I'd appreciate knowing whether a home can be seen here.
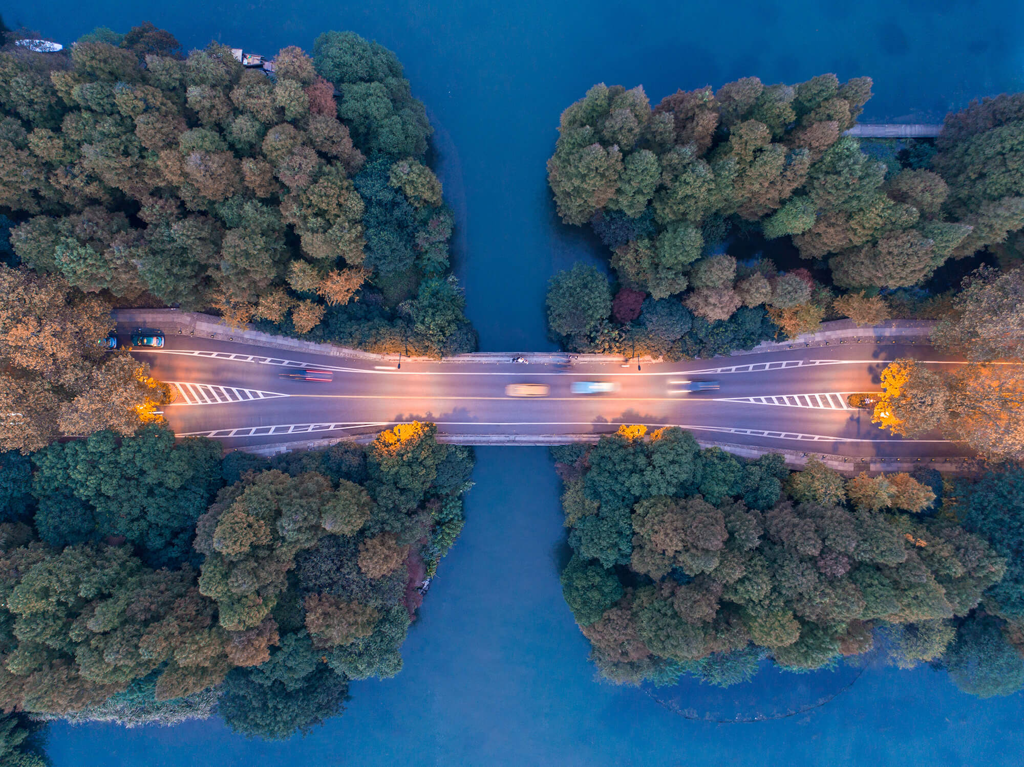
No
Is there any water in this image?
Yes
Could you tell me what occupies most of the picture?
trees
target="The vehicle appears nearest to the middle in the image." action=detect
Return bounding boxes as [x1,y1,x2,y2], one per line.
[511,383,544,398]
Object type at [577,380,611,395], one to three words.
car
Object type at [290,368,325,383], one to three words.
car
